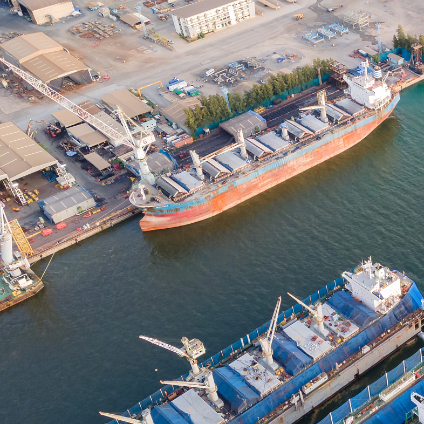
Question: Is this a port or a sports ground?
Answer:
port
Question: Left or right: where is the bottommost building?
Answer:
left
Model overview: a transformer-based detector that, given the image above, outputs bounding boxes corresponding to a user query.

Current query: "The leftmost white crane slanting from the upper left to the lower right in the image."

[0,59,163,191]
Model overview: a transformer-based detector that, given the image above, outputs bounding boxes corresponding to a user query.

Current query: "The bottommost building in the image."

[41,183,99,221]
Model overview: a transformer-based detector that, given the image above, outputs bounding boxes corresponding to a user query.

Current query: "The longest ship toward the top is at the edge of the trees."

[136,57,405,232]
